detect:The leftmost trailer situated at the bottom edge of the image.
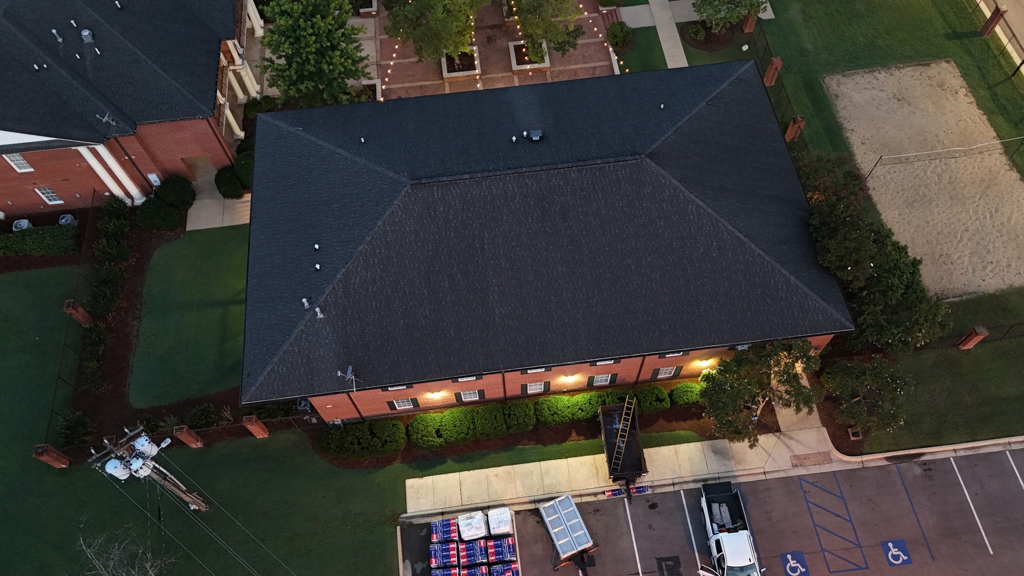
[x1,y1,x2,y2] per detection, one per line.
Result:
[539,493,603,576]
